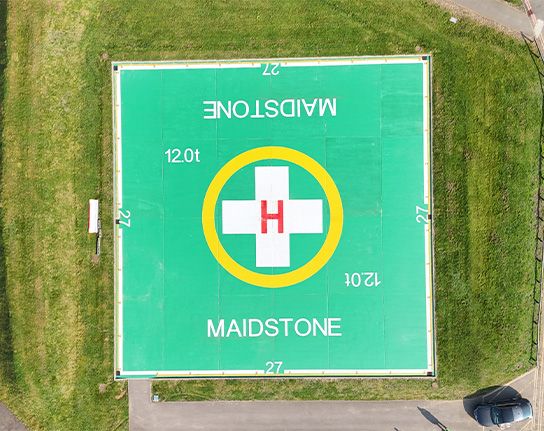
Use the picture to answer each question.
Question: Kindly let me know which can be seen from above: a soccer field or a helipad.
helipad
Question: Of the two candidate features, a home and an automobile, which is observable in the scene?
automobile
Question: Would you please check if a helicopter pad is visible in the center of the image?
Yes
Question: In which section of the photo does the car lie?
bottom right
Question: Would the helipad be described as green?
Yes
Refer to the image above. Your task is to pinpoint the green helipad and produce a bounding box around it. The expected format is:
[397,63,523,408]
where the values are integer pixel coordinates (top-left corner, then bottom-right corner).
[112,54,438,380]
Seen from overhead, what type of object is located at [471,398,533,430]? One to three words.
car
